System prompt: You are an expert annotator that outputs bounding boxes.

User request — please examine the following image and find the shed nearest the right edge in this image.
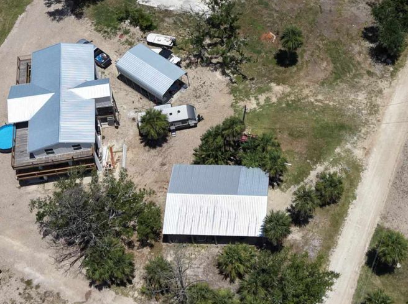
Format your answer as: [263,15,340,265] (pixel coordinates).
[163,165,268,243]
